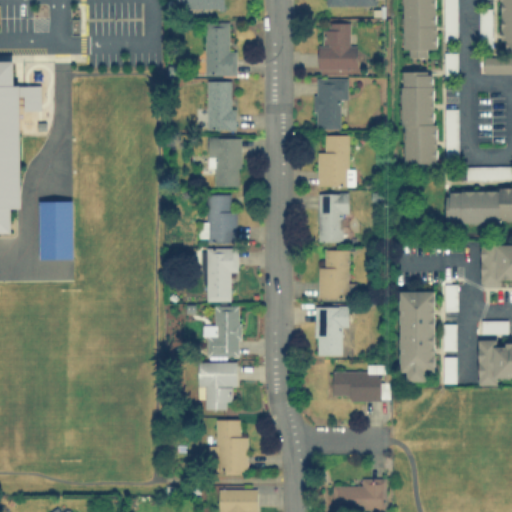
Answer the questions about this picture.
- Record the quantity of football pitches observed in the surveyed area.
1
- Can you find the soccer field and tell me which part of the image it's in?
bottom left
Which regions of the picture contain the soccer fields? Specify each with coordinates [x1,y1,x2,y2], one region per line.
[20,291,120,461]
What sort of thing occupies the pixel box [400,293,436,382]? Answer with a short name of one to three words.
building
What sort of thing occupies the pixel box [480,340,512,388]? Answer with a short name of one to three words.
building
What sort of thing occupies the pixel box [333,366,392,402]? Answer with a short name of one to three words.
house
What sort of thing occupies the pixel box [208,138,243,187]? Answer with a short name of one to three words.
house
